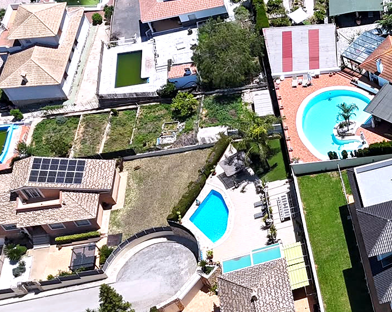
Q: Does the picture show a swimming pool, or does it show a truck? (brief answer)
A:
swimming pool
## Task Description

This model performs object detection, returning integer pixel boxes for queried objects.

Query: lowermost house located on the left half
[0,155,122,243]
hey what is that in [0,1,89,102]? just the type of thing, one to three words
house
